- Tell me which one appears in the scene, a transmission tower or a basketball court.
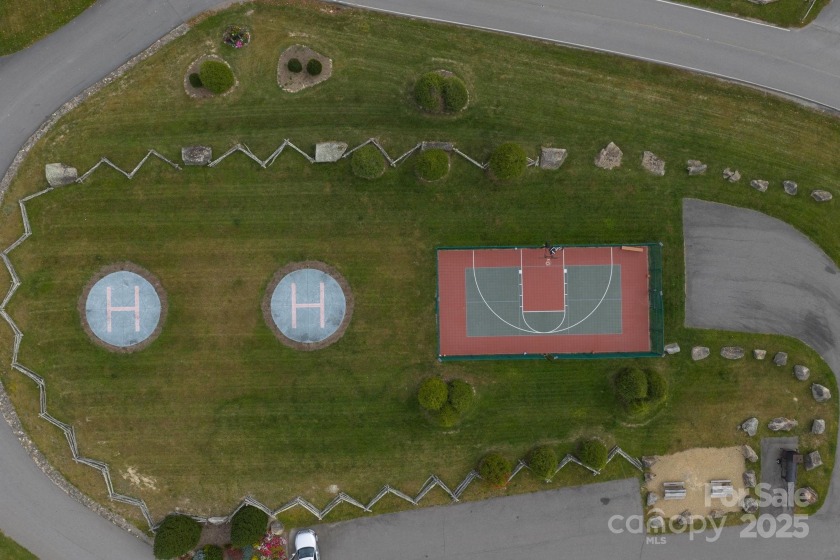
basketball court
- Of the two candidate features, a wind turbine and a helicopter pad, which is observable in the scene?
helicopter pad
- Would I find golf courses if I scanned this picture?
No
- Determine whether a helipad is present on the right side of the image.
No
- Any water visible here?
No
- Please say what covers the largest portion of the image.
grass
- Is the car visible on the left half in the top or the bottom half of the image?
bottom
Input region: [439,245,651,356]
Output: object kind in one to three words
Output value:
basketball court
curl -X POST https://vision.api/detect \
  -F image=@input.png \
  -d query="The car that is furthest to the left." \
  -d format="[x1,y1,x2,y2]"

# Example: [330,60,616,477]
[285,528,318,560]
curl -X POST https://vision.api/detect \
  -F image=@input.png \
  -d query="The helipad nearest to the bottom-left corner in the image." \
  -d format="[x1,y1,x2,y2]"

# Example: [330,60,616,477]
[78,264,168,353]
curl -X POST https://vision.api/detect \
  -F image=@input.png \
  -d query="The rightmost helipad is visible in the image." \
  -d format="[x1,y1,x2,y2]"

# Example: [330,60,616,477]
[262,262,354,351]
